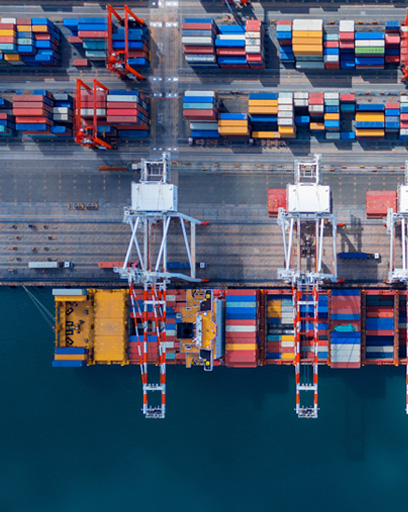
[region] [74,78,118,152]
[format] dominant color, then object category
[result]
red crane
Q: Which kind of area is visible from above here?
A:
port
